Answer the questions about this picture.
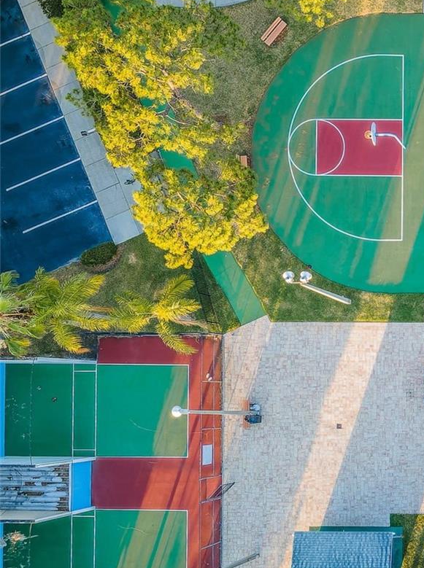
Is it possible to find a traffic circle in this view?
No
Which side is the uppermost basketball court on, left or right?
right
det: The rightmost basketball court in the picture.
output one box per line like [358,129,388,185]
[251,11,424,294]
